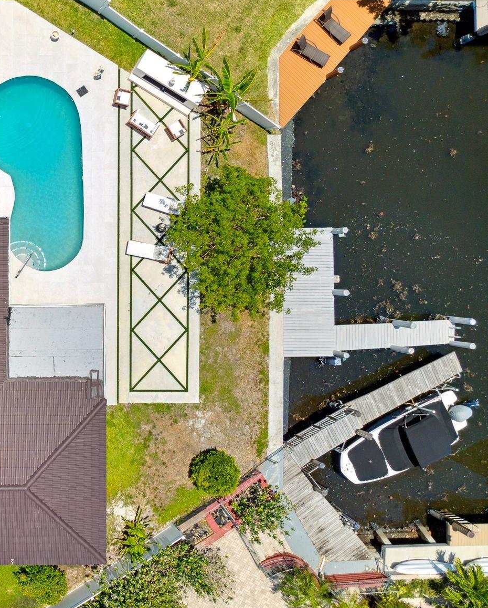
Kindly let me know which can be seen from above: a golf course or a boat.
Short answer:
boat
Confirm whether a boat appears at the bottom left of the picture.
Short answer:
No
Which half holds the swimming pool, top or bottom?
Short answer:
top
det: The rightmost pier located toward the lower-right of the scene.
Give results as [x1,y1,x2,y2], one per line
[443,523,488,543]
